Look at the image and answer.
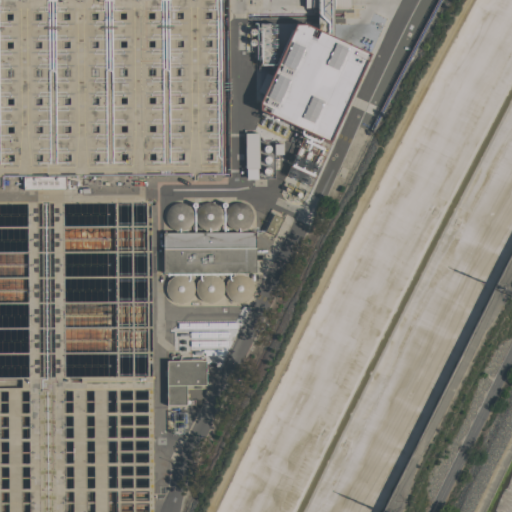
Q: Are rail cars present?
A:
Yes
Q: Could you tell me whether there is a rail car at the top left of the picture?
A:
No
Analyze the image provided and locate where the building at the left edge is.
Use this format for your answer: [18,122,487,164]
[24,176,66,190]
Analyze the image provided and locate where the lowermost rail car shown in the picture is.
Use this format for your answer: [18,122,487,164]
[372,113,385,132]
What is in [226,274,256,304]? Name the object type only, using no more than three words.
storage tank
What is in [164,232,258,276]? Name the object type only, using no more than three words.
building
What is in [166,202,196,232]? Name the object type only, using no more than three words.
storage tank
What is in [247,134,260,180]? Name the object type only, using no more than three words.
building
